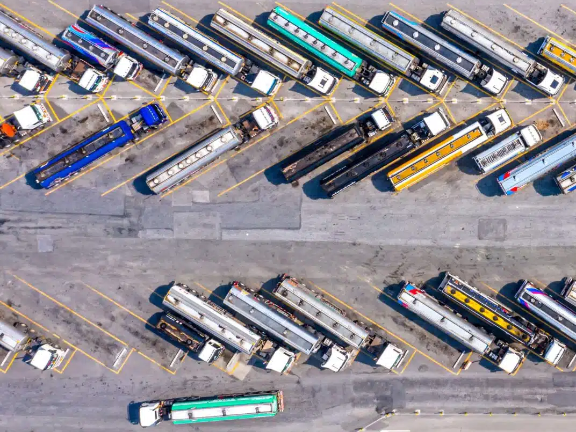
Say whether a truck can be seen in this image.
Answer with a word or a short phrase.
Yes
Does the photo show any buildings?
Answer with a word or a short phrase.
No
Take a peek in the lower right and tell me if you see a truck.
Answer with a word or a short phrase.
Yes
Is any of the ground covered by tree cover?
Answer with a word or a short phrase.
No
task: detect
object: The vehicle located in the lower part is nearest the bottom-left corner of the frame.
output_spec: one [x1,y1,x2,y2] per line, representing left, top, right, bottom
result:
[0,304,70,371]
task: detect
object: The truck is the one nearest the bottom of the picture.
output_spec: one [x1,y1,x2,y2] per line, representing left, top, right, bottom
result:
[140,388,288,426]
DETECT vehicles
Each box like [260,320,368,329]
[399,276,524,374]
[226,278,357,373]
[549,162,576,193]
[63,25,148,82]
[213,10,344,95]
[88,5,220,90]
[140,388,288,426]
[276,272,407,370]
[472,119,544,173]
[537,37,576,75]
[269,6,398,97]
[388,105,517,189]
[384,10,510,97]
[0,41,59,92]
[35,101,173,187]
[165,279,302,374]
[442,9,566,97]
[147,103,284,192]
[323,107,452,197]
[0,101,57,145]
[0,304,70,371]
[158,306,230,362]
[283,104,399,182]
[320,6,450,92]
[150,8,285,97]
[0,3,114,91]
[441,271,568,364]
[495,132,576,193]
[515,277,576,339]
